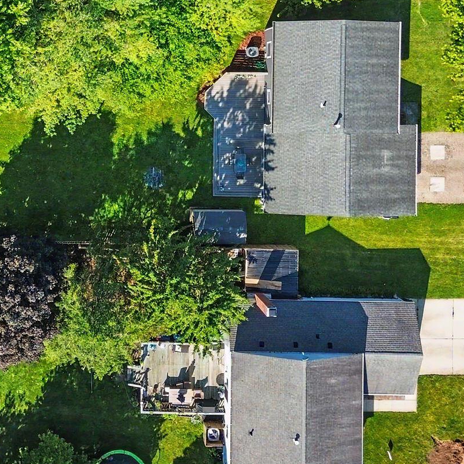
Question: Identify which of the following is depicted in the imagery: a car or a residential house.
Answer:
residential house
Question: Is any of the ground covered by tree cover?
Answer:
Yes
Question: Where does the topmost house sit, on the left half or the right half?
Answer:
right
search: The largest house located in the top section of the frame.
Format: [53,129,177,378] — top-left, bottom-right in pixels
[260,20,418,218]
